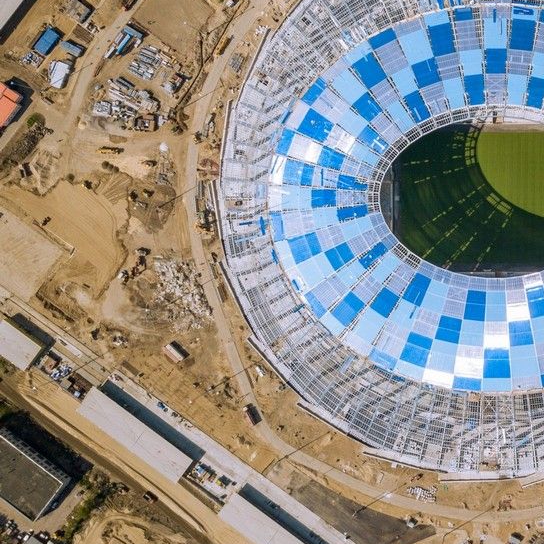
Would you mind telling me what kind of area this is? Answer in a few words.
sports ground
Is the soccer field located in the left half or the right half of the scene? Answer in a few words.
right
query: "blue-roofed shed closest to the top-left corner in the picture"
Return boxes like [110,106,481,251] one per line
[34,26,64,56]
